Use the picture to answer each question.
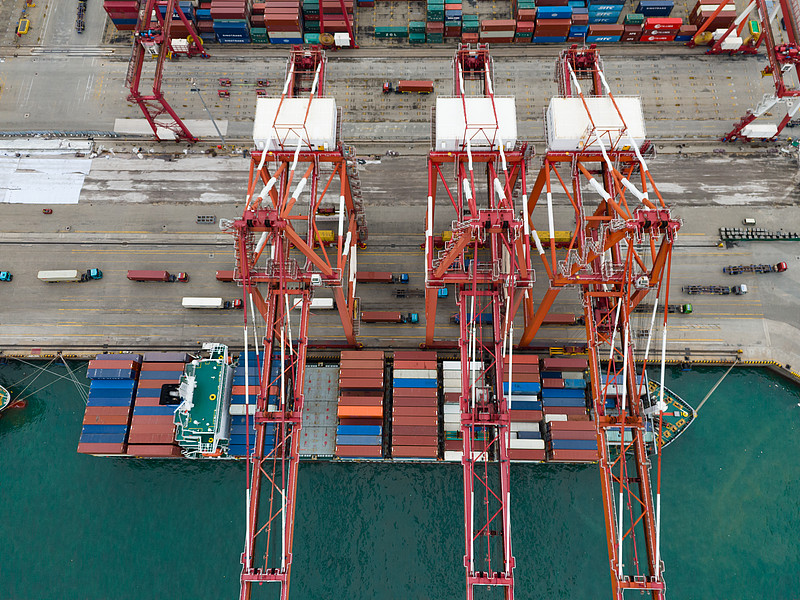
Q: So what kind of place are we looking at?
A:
port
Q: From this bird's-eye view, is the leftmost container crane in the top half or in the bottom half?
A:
top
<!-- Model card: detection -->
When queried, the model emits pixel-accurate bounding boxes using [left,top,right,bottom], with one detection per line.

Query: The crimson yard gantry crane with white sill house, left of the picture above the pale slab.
[132,0,209,141]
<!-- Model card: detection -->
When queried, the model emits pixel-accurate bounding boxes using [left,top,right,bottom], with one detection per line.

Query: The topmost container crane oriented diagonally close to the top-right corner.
[686,0,761,48]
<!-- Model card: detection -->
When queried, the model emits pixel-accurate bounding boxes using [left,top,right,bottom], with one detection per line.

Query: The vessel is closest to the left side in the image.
[0,380,31,415]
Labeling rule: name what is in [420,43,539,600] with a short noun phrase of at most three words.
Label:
container crane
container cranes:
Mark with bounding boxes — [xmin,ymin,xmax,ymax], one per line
[132,0,209,141]
[704,0,800,141]
[686,0,761,48]
[512,43,684,600]
[212,43,370,600]
[420,43,539,600]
